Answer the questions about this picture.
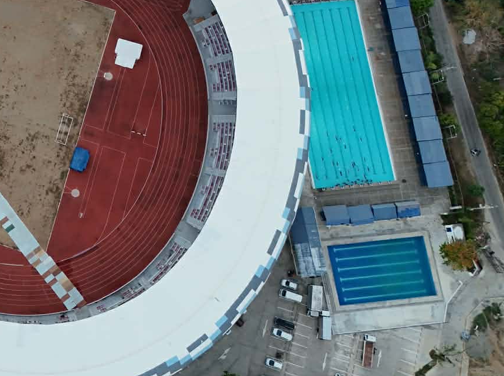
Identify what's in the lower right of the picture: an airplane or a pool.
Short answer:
pool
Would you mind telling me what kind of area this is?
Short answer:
sports ground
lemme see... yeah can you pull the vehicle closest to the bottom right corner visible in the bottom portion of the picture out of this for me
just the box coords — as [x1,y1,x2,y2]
[361,334,379,369]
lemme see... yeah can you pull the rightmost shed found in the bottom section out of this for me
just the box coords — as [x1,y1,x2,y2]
[438,225,466,241]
